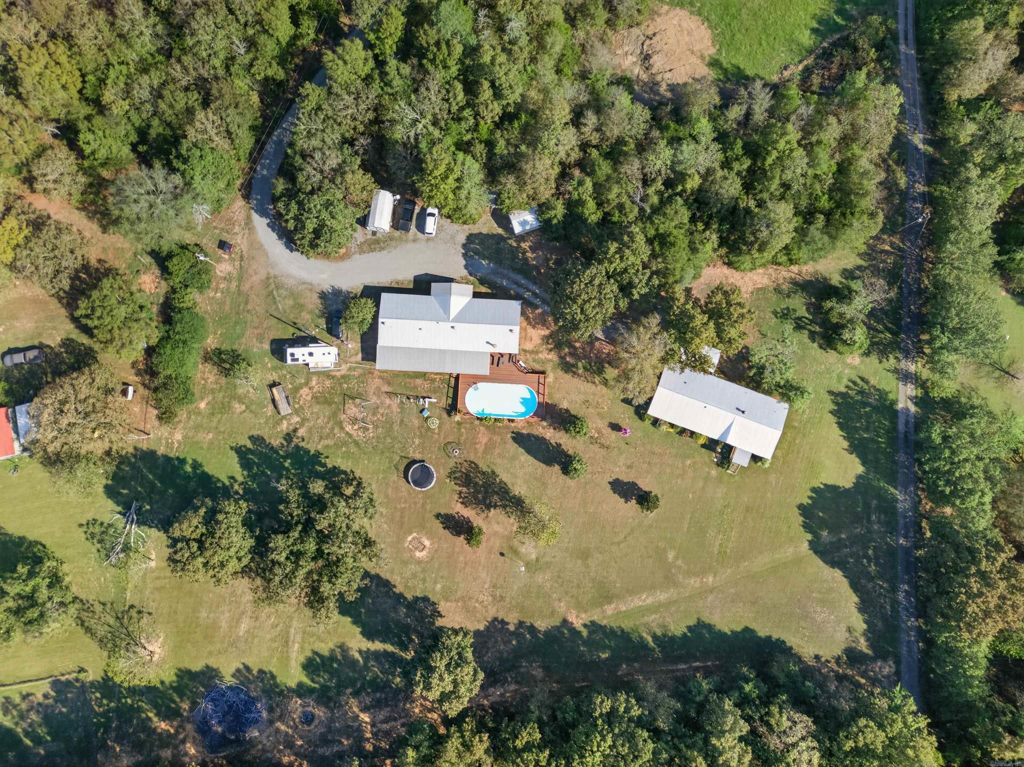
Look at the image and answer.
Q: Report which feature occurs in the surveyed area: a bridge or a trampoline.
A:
trampoline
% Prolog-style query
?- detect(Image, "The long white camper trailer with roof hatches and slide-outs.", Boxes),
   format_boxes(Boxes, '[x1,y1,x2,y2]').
[287,345,347,369]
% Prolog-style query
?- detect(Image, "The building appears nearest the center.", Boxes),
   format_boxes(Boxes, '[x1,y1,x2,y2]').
[376,283,521,375]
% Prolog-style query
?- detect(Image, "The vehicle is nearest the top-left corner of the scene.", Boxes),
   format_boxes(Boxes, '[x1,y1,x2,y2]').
[4,348,46,366]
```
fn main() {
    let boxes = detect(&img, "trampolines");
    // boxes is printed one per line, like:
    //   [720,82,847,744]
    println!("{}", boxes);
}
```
[407,461,436,491]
